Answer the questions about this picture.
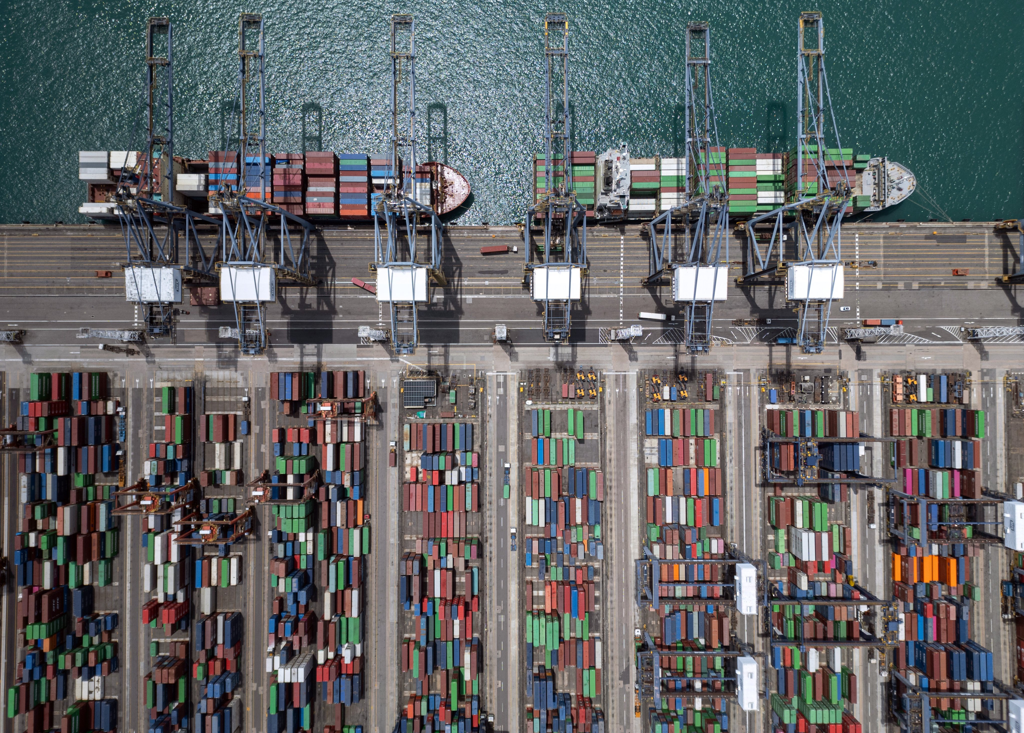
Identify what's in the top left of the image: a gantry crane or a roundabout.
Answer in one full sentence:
The feature located in the top left of the image is a gantry crane.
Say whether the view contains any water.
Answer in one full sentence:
Yes, the picture does contain water.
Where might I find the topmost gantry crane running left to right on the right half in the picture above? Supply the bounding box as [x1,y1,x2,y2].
[763,423,903,490]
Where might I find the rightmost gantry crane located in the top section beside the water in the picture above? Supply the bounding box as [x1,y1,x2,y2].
[987,217,1024,282]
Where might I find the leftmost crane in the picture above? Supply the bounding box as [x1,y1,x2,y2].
[0,422,63,454]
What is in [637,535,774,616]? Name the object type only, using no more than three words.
container crane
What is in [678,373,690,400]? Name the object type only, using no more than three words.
vehicle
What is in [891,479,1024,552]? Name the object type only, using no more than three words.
container crane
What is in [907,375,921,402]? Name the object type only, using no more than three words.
work vehicle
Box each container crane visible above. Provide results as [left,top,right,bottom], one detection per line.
[766,573,913,655]
[632,21,728,354]
[306,391,376,422]
[219,16,330,356]
[170,508,249,546]
[120,23,242,343]
[987,217,1024,282]
[512,14,591,341]
[639,620,776,711]
[110,480,190,516]
[896,658,1024,733]
[891,479,1024,552]
[763,423,903,490]
[728,12,847,354]
[373,15,459,355]
[0,422,63,454]
[637,535,774,616]
[245,471,318,506]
